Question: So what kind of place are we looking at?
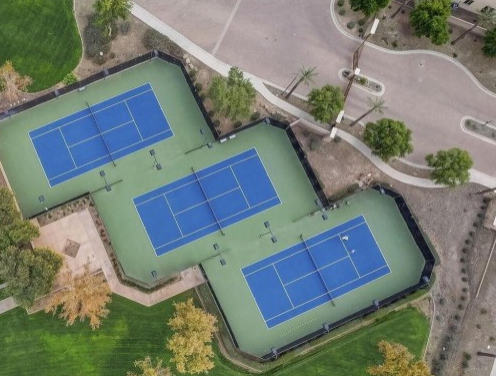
sports ground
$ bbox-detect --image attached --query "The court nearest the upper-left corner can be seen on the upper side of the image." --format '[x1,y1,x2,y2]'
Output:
[0,59,218,217]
